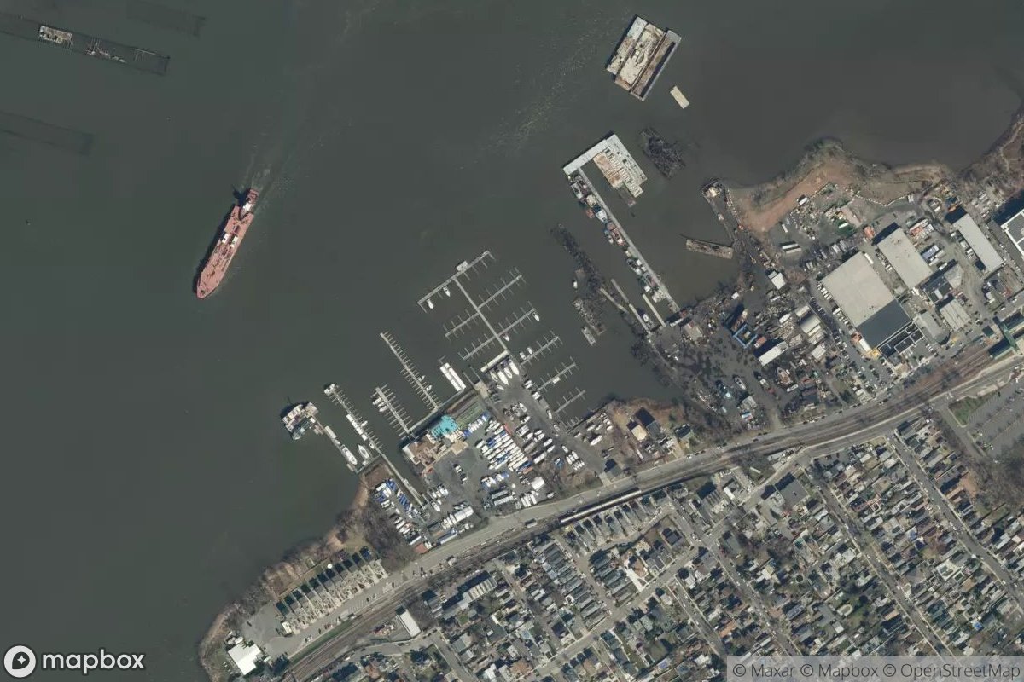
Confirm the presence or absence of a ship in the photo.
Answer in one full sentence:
Yes, there's a ship down there.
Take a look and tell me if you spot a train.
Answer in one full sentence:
Yes, there is a train in the image.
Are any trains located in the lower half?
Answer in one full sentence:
Yes, in the lower half there is a train.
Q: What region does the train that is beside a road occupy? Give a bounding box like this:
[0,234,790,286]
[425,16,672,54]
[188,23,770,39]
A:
[561,489,640,522]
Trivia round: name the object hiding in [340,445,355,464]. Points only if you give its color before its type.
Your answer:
white ship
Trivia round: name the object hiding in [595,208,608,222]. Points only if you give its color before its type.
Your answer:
white ship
